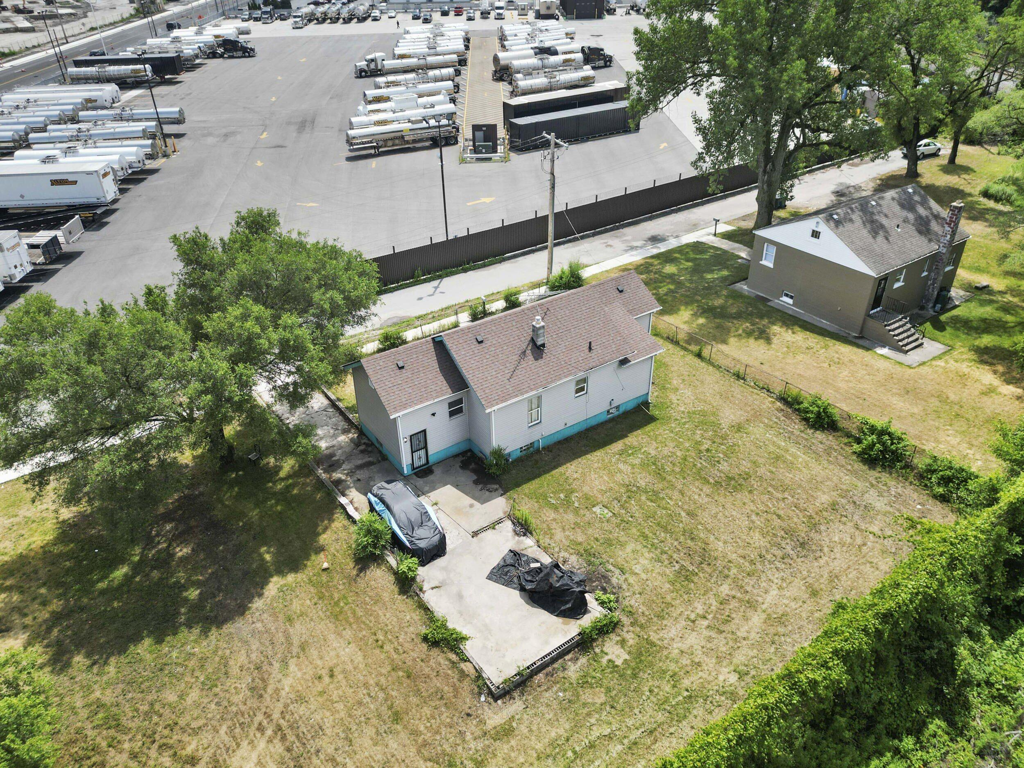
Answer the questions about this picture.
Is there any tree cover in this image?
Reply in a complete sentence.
Yes, the picture does contain tree cover.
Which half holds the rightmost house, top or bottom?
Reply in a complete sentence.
Seen from above, the rightmost house lies in the top half of the view.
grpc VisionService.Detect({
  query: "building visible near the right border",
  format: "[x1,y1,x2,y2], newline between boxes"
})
[746,184,978,353]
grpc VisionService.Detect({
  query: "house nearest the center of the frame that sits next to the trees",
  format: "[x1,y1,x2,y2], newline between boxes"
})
[342,266,668,474]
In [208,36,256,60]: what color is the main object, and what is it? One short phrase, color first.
black truck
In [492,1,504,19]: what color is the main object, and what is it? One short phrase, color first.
white vehicle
